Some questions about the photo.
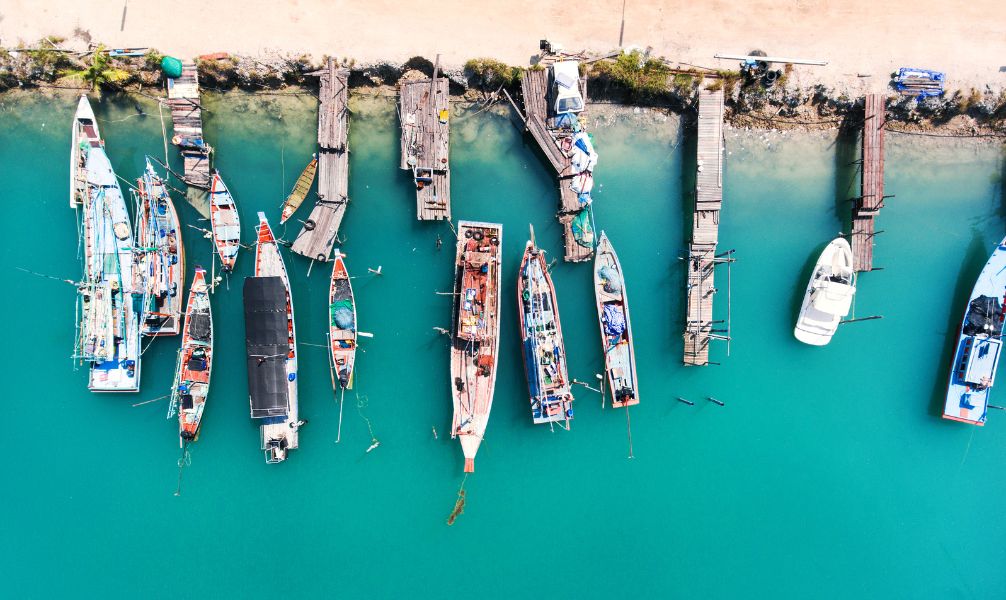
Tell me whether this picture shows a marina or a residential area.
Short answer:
marina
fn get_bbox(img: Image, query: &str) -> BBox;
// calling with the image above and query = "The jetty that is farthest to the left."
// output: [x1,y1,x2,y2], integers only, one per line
[155,61,218,190]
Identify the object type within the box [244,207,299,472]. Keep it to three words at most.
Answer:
boat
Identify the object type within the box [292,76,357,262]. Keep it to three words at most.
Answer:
pier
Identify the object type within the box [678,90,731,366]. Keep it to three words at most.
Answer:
pier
